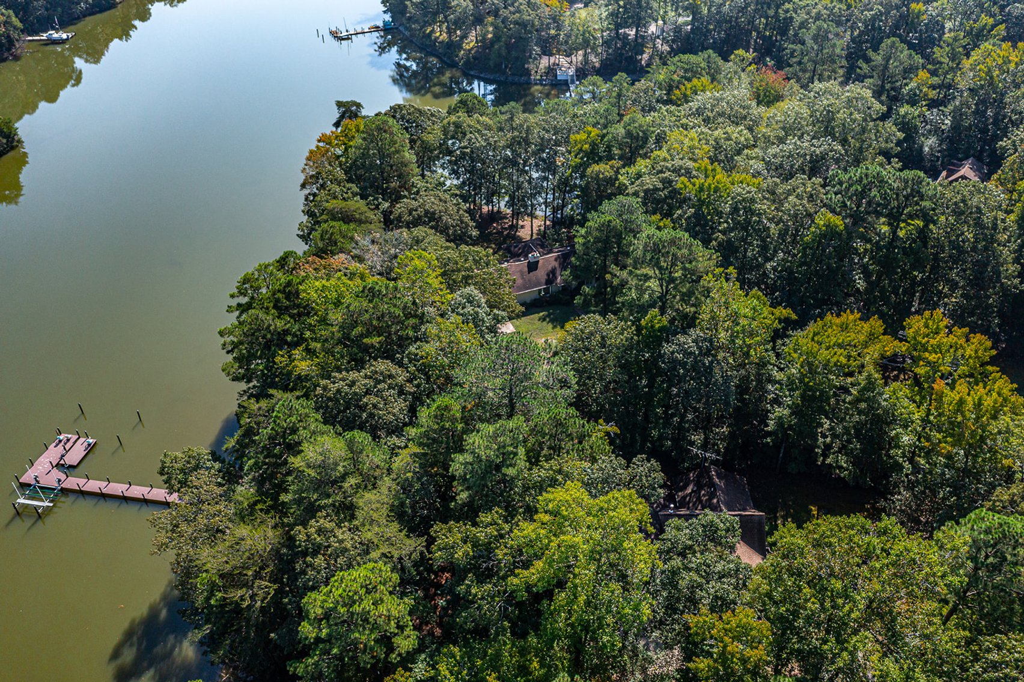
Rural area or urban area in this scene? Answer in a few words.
rural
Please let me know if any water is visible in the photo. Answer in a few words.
Yes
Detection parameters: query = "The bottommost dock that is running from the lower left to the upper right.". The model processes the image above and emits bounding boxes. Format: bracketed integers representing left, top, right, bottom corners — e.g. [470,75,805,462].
[61,430,97,469]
